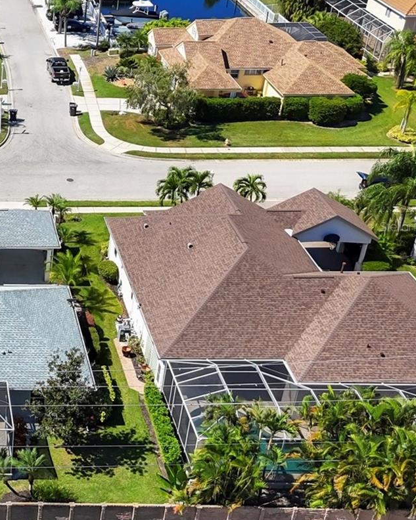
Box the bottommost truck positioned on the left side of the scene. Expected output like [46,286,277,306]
[51,62,74,84]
